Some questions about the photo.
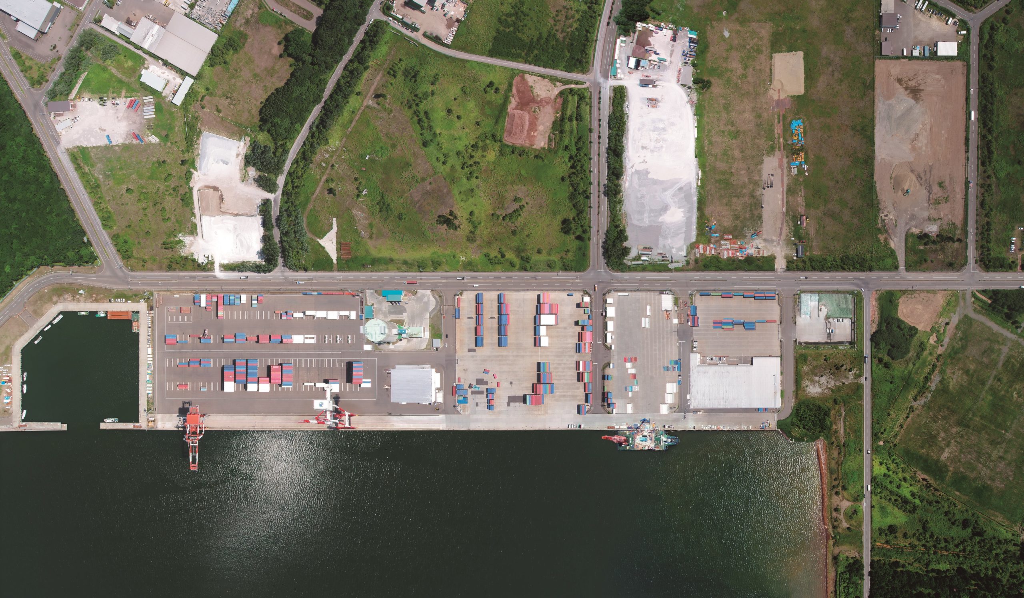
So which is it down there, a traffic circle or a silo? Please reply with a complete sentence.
I can see a silo in this picture.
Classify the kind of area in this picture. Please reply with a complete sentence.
This looks like a port.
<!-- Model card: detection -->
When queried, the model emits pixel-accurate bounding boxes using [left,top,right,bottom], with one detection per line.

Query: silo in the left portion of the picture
[359,318,393,343]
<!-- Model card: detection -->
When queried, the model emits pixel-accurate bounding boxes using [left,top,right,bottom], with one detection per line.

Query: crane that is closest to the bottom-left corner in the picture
[180,405,217,473]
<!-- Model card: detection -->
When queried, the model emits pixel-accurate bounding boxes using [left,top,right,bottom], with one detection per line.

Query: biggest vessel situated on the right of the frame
[601,430,664,450]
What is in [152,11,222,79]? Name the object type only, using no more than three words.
building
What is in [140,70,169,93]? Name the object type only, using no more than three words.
building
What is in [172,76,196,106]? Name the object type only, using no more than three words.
shed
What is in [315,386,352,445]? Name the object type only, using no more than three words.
crane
